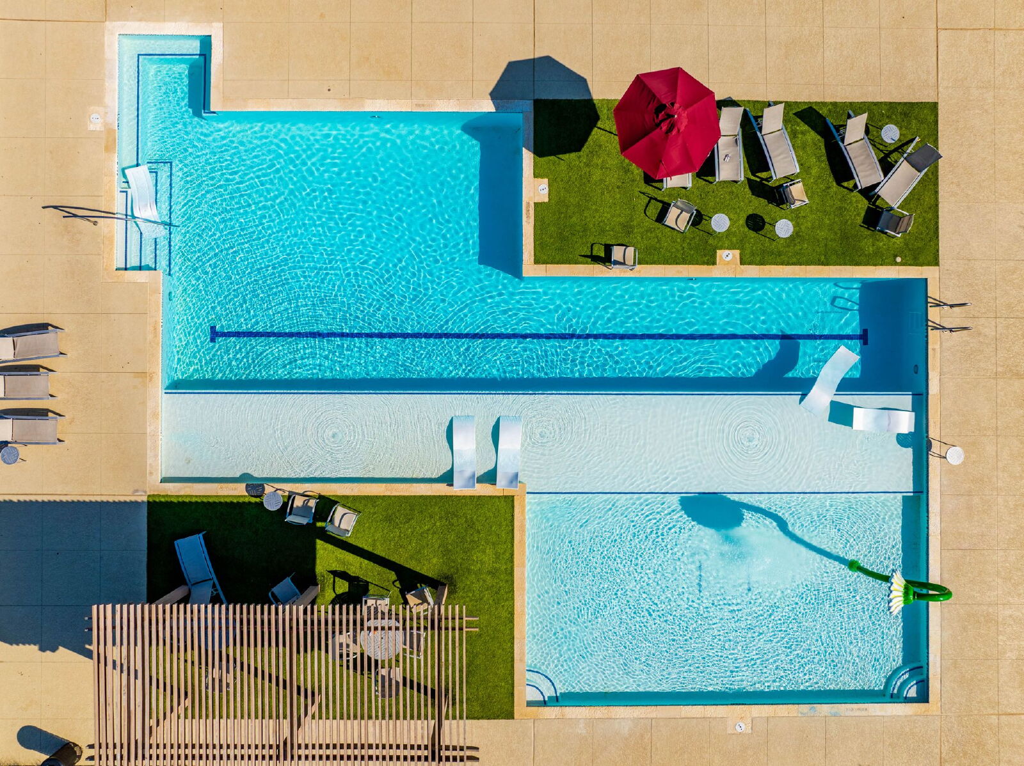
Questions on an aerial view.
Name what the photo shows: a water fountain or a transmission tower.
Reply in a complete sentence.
The one in the frame is a water fountain.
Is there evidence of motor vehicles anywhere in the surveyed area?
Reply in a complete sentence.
No, I can see no motor vehicle in this picture.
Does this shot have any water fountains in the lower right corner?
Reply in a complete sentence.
Yes, a water fountain is visible in the lower right corner.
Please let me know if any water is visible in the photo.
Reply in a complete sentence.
Yes, water shows up in the scene.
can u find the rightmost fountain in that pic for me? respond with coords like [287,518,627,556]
[851,562,956,621]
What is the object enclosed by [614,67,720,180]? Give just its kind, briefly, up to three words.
umbrella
